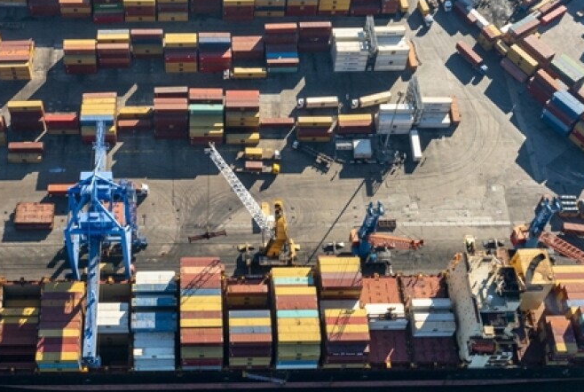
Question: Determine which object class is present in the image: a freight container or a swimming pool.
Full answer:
There is a freight container in the scene.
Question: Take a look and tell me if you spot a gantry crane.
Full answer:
Yes, a gantry crane is visible in the scene.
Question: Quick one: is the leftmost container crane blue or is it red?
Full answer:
The leftmost container crane is blue.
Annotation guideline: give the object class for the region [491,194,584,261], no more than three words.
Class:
crane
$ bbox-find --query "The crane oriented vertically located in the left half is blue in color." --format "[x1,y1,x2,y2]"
[59,113,144,375]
